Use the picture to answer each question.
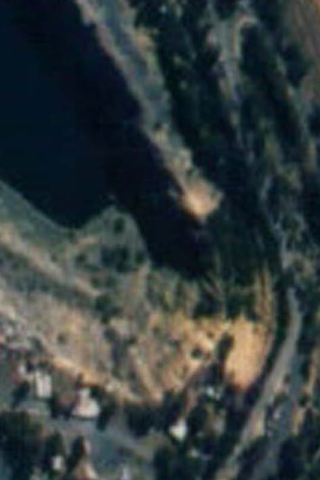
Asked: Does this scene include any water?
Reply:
Yes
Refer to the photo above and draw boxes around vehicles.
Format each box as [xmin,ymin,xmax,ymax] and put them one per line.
[272,409,279,419]
[123,471,128,480]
